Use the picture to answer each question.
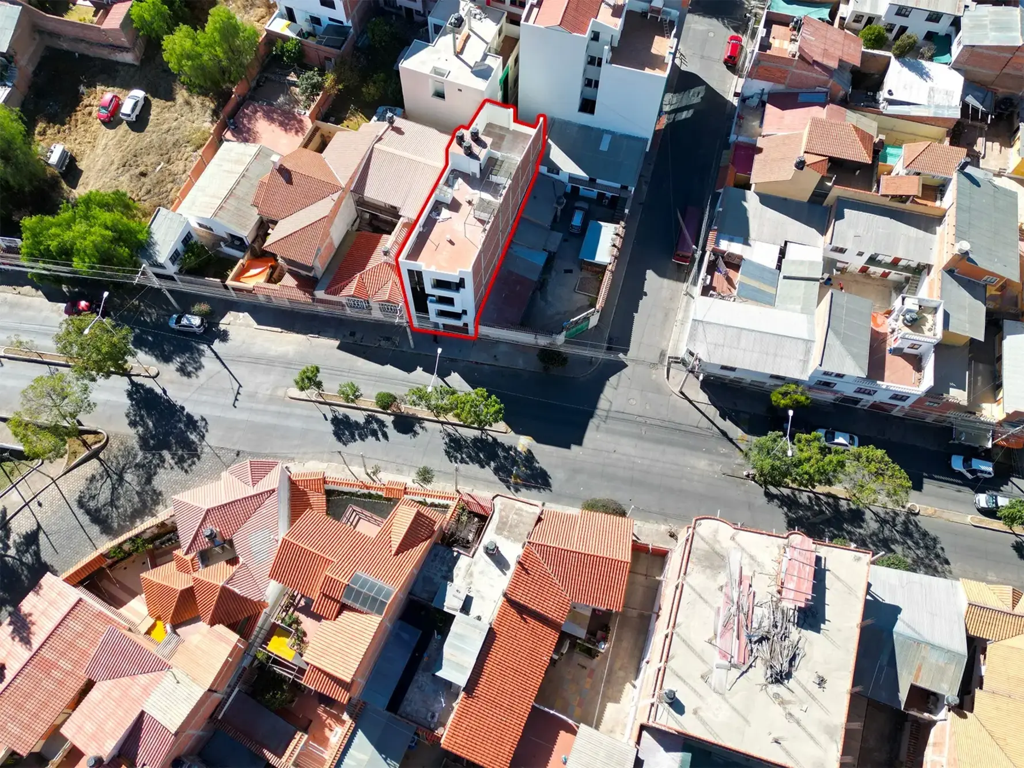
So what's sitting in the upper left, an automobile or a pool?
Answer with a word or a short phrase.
automobile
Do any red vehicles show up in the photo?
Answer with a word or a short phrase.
Yes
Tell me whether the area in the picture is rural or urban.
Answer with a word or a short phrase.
urban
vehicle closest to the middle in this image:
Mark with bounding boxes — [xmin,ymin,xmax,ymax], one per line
[567,201,589,236]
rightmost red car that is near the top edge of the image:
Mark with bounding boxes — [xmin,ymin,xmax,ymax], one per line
[723,36,742,68]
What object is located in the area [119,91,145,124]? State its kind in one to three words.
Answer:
car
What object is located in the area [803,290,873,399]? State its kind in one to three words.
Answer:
house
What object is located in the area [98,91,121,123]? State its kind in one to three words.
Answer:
car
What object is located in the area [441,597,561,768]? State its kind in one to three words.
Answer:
house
